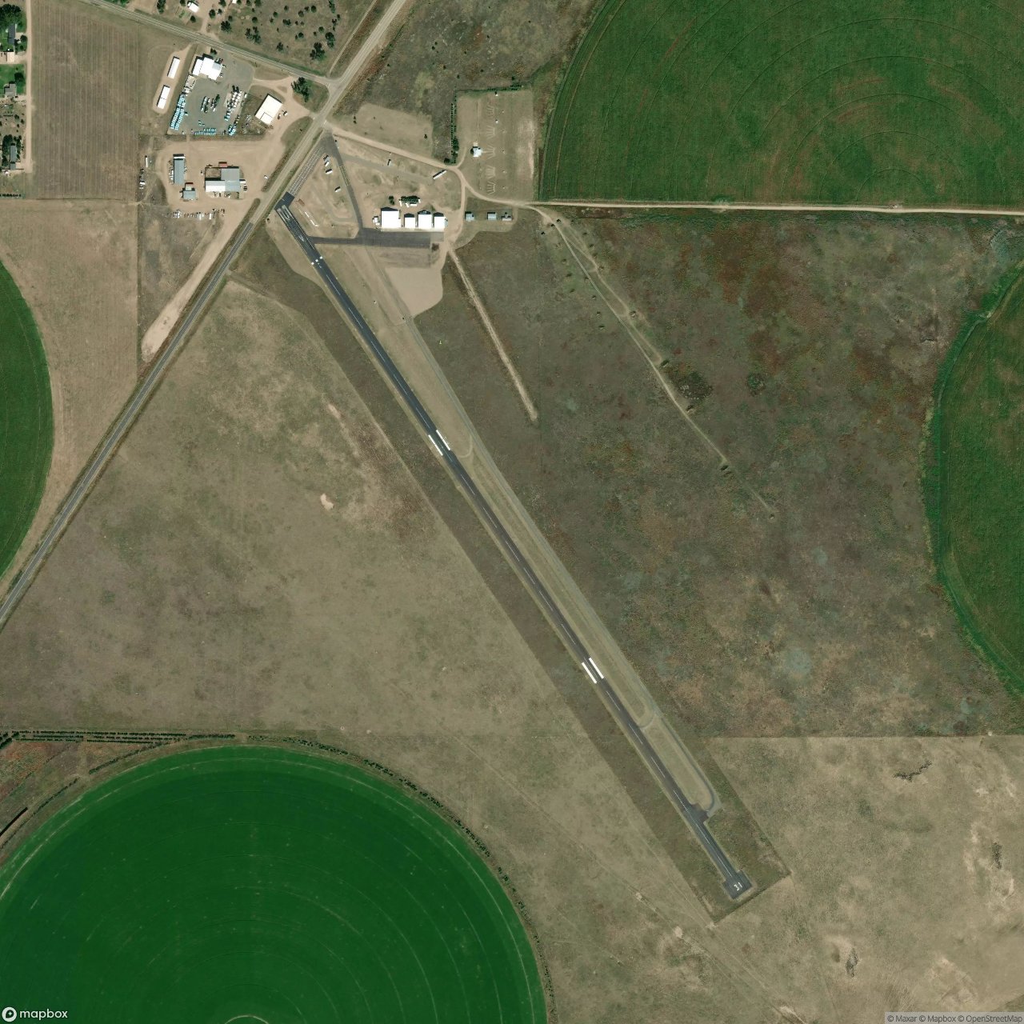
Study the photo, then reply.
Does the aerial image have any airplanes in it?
No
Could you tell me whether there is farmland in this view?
Yes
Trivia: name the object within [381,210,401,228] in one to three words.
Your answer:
hangar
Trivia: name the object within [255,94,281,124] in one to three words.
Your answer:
building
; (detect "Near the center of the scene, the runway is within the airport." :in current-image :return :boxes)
[275,192,752,899]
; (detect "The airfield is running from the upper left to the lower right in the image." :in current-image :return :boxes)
[275,129,752,899]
